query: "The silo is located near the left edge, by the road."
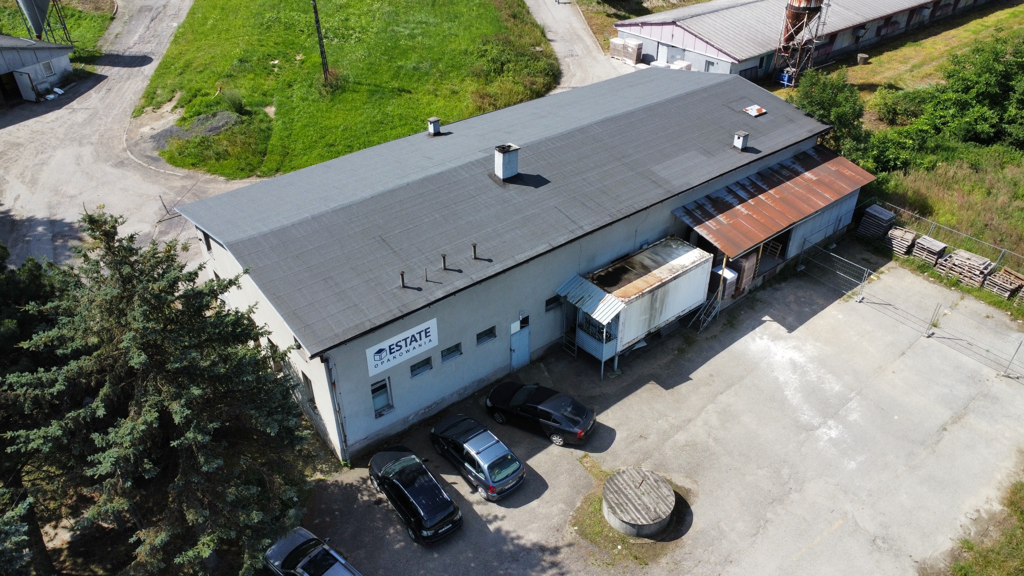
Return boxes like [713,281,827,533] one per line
[15,0,74,50]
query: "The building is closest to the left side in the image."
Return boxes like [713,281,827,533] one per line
[0,37,80,114]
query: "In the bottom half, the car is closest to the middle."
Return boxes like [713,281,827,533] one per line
[482,381,600,447]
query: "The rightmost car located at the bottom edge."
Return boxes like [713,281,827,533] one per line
[366,442,472,554]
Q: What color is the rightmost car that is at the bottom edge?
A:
black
